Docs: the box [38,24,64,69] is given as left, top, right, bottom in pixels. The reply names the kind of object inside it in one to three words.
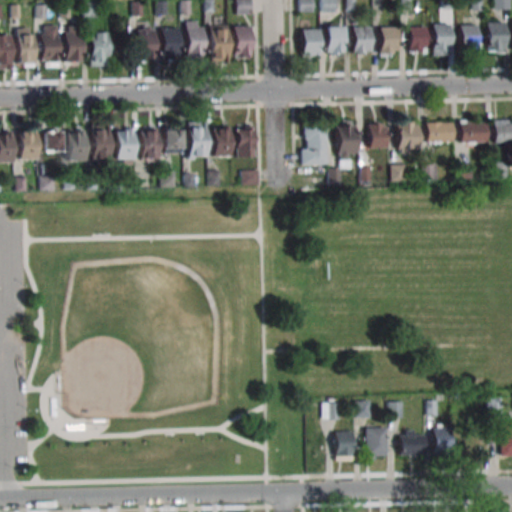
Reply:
house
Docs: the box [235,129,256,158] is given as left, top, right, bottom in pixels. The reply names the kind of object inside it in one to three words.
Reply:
house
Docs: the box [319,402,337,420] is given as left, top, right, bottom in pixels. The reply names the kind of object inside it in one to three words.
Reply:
building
